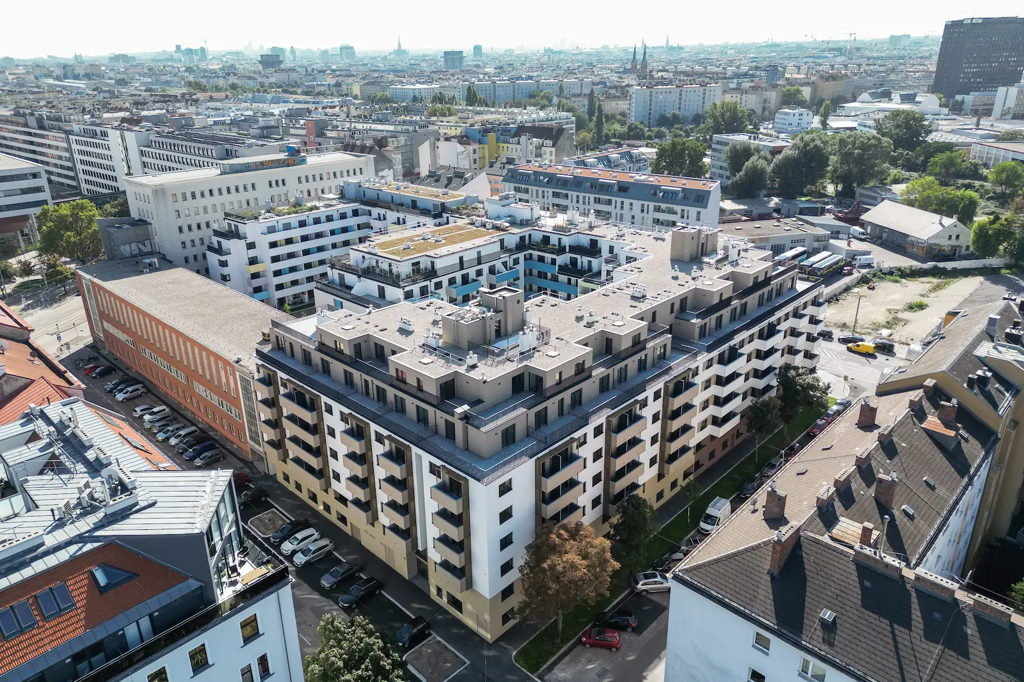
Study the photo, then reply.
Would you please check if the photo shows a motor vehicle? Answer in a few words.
Yes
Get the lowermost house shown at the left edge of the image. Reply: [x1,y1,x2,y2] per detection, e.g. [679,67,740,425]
[0,395,309,682]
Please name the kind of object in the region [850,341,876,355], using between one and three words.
vehicle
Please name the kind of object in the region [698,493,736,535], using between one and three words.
vehicle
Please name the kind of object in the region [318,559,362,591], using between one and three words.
car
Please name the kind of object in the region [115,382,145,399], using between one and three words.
car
